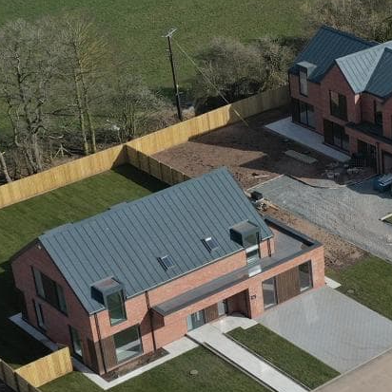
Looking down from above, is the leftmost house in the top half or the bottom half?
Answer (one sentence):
You can find the leftmost house in the bottom half.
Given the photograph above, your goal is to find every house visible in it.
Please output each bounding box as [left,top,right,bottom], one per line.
[286,27,392,174]
[4,164,329,378]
